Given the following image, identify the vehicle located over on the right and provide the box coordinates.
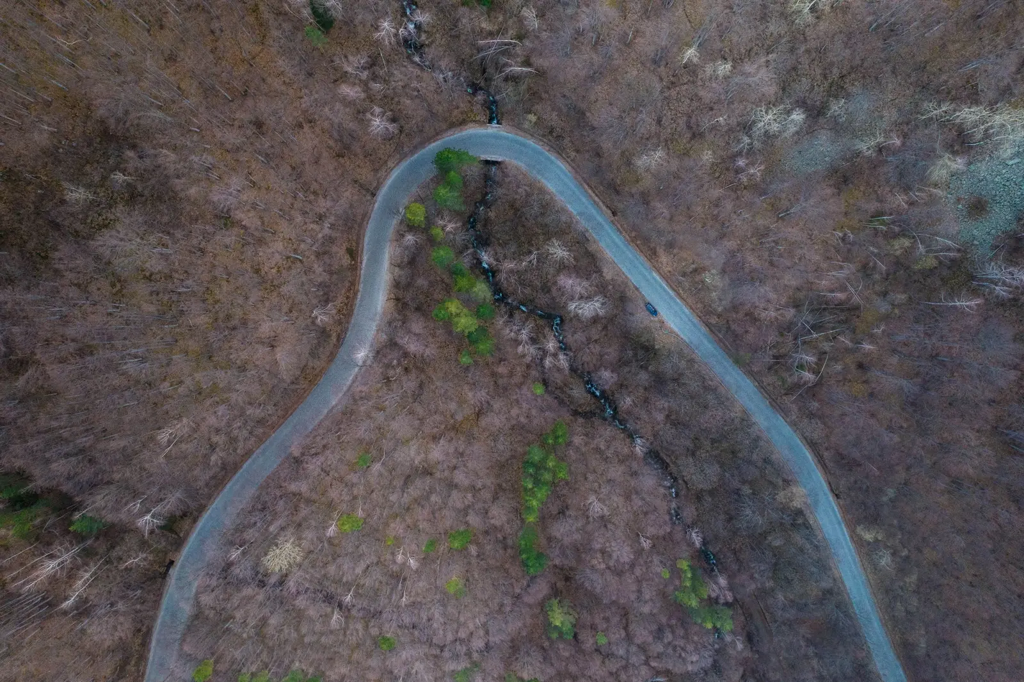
[644,302,658,318]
